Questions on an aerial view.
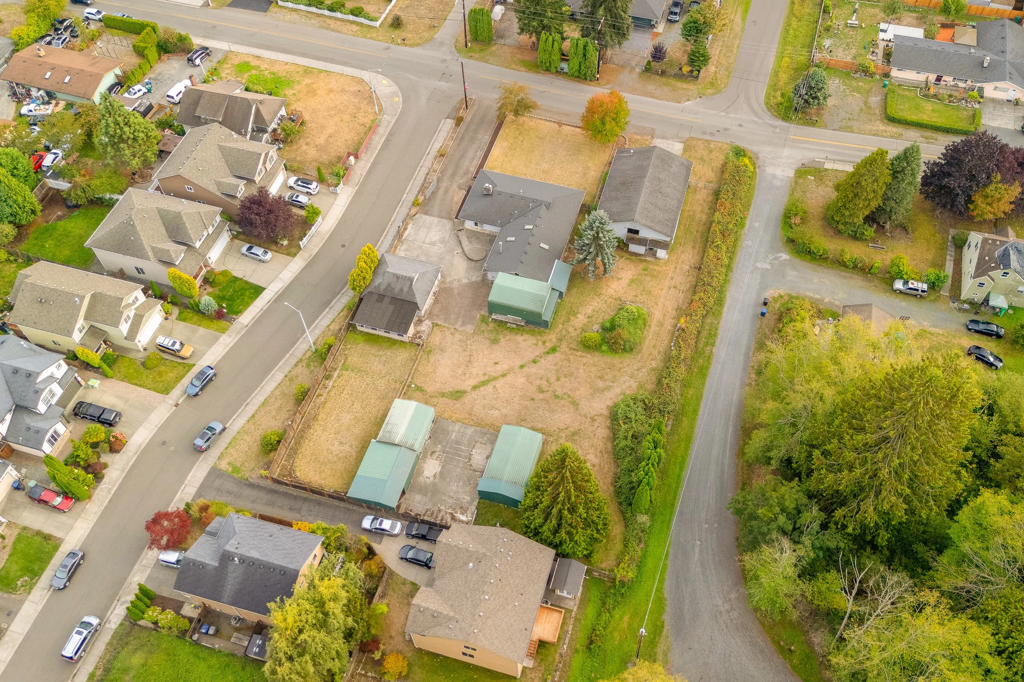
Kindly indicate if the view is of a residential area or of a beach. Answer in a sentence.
This image shows a residential area.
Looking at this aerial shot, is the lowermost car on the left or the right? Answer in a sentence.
It is on the left.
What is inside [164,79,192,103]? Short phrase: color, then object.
white vehicle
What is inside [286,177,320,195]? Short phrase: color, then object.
white car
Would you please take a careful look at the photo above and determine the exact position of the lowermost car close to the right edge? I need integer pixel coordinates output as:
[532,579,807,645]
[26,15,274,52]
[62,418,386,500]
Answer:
[966,345,1003,370]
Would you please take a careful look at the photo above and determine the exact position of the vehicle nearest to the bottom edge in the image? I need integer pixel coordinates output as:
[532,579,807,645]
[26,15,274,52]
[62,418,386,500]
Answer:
[60,616,103,664]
